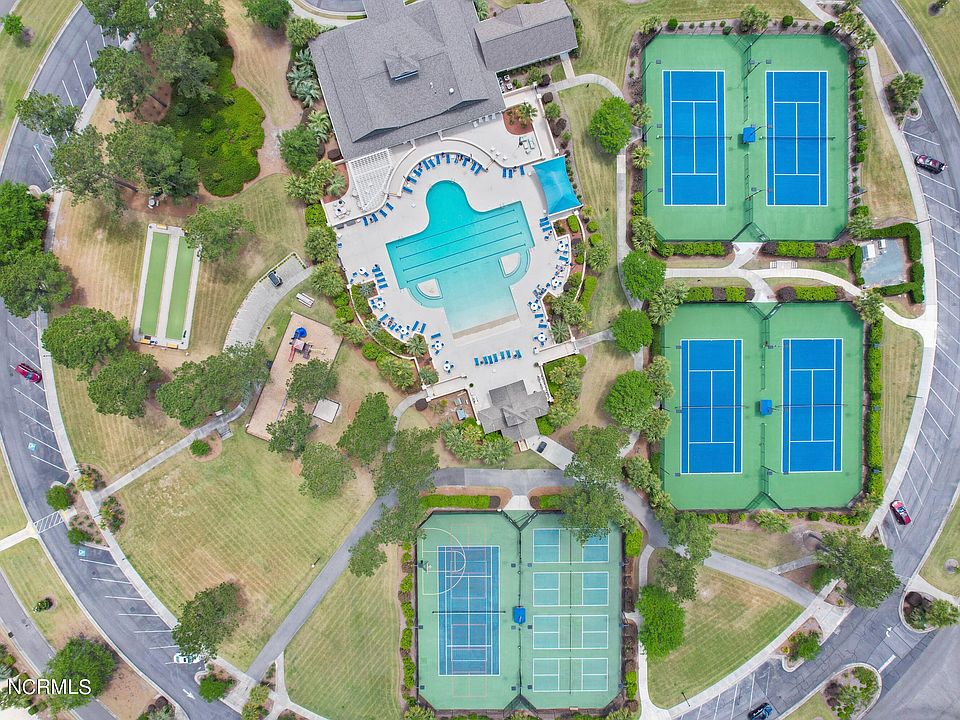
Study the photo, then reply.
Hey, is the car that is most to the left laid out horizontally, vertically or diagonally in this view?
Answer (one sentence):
What the image shows is the car that is most to the left lying diagonally.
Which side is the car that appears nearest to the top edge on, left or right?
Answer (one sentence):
The car that appears nearest to the top edge appears in the right half of the scene.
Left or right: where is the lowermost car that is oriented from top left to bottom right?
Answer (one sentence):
It is on the right.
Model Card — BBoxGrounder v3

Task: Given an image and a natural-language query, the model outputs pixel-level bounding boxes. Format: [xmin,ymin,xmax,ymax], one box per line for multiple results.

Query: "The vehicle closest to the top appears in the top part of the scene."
[915,156,944,175]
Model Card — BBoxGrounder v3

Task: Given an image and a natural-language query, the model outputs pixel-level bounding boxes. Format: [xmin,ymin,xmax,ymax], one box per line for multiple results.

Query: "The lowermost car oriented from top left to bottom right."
[889,499,911,527]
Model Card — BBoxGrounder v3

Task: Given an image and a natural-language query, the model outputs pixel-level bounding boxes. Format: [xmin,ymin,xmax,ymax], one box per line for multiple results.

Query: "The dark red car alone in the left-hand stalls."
[17,362,43,383]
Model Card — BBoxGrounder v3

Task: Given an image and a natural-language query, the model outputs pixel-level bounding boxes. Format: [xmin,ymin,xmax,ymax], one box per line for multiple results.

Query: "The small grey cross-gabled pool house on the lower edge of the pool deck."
[478,380,549,444]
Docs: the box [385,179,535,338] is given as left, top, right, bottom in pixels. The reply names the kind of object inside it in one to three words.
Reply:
swimming pool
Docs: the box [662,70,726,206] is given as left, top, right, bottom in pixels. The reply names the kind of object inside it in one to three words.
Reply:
tennis court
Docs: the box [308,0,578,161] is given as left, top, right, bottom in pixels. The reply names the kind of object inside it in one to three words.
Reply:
building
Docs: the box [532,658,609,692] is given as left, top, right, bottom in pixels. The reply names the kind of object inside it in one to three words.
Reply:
sports court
